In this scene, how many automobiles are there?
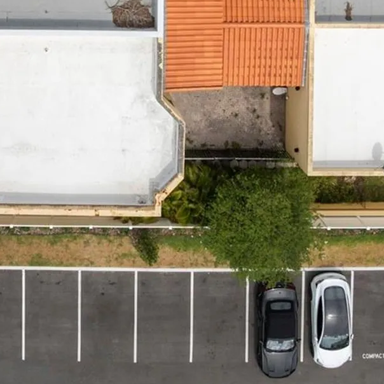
2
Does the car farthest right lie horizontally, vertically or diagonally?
vertically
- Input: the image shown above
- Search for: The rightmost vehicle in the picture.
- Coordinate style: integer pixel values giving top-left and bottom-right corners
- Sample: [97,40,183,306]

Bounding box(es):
[308,272,358,367]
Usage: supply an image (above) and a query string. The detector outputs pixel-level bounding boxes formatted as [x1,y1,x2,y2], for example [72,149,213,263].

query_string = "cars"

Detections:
[308,272,358,367]
[255,280,302,377]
